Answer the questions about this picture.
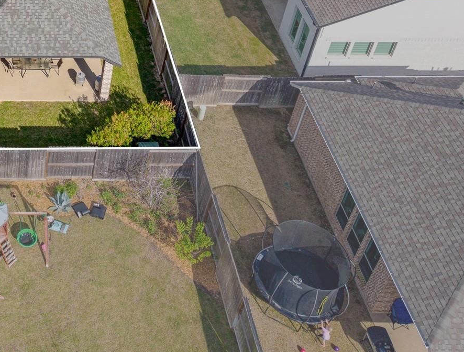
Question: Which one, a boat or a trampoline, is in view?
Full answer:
The one in the frame is a trampoline.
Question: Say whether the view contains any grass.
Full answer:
Yes, grass shows up in the scene.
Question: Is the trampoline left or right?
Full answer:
You can find the trampoline on the right side of the picture.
